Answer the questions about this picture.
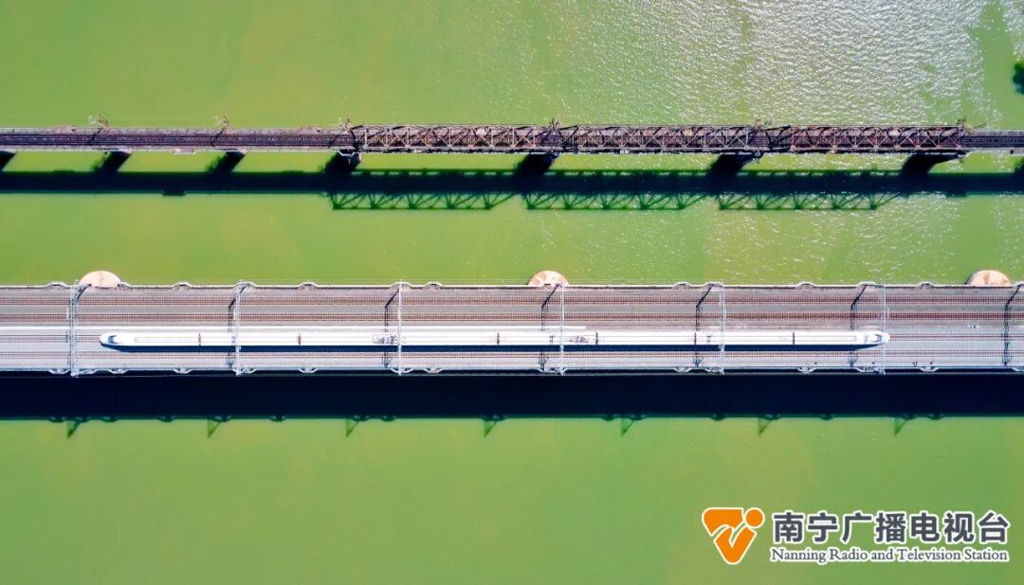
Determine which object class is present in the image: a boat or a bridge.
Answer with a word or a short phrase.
bridge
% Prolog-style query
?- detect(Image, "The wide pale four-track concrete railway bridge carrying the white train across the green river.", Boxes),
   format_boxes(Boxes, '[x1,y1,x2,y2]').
[0,270,1024,375]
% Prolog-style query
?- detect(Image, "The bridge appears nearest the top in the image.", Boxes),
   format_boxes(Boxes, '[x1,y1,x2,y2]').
[0,123,1024,165]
